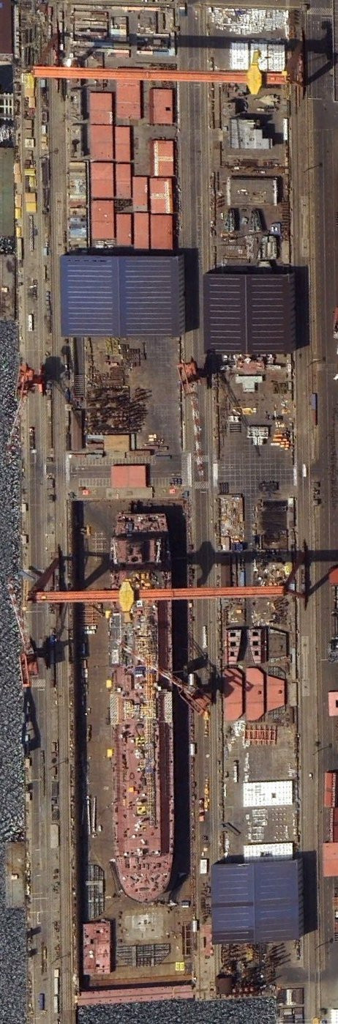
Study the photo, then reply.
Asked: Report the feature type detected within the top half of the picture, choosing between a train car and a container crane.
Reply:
container crane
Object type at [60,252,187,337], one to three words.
hangar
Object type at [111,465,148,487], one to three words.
building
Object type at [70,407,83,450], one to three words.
building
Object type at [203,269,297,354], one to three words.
hangar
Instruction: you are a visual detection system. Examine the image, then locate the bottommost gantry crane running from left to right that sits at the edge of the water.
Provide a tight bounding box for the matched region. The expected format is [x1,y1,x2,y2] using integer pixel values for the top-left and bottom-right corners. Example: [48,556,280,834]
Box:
[27,541,308,614]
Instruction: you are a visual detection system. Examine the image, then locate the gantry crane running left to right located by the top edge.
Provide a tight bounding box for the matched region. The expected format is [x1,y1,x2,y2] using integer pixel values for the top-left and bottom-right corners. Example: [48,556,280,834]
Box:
[29,21,306,100]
